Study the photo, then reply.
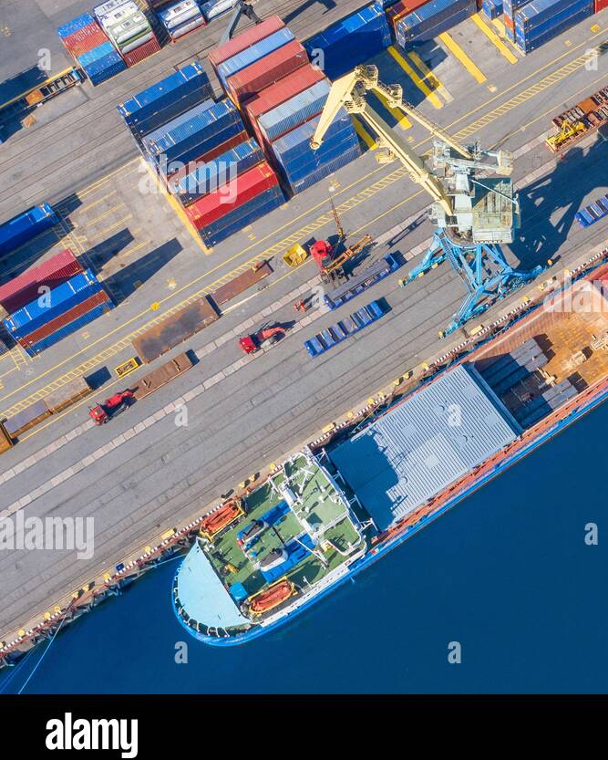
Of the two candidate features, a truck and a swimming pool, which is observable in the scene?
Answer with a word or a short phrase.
truck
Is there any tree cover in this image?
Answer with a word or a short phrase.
No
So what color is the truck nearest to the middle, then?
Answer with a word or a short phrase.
red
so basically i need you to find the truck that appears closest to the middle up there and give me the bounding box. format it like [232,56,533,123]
[237,320,298,357]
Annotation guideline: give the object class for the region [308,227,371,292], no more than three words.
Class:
crane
